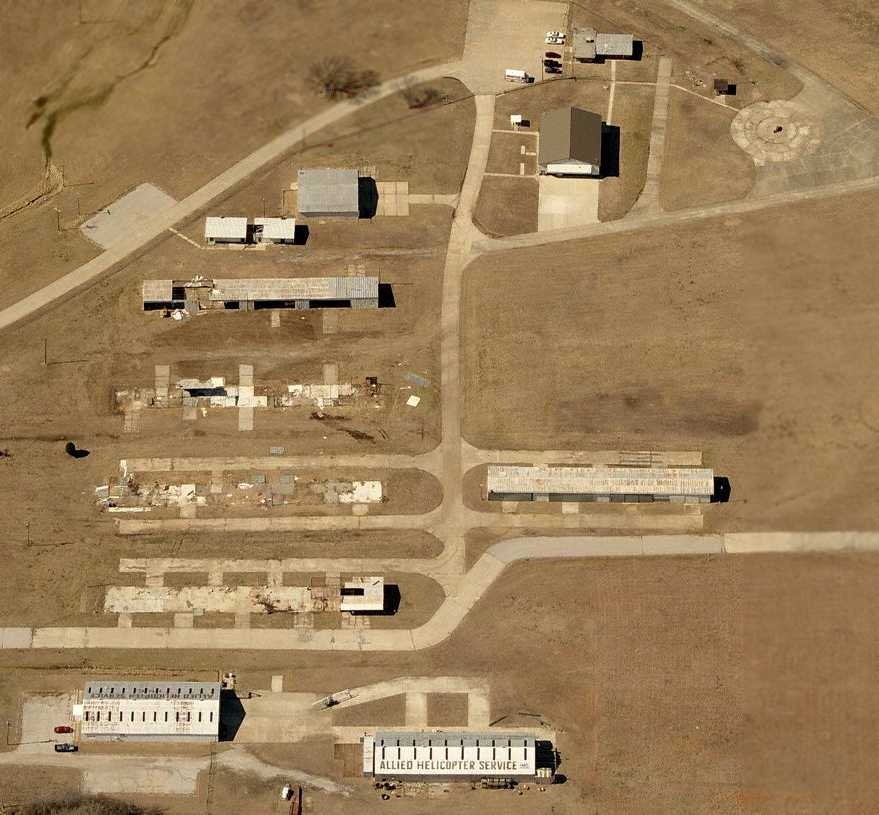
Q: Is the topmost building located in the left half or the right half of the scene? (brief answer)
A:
right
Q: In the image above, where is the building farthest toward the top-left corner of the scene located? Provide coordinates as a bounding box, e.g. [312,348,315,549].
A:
[205,216,248,246]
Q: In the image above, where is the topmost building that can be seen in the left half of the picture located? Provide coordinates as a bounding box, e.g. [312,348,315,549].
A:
[299,168,359,219]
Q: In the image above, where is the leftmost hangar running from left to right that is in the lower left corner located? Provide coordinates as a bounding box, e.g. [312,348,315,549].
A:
[72,682,221,743]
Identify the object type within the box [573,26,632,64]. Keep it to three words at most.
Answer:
building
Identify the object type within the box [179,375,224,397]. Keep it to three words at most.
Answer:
shed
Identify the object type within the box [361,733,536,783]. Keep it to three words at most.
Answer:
hangar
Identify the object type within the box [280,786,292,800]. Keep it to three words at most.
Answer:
vehicle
